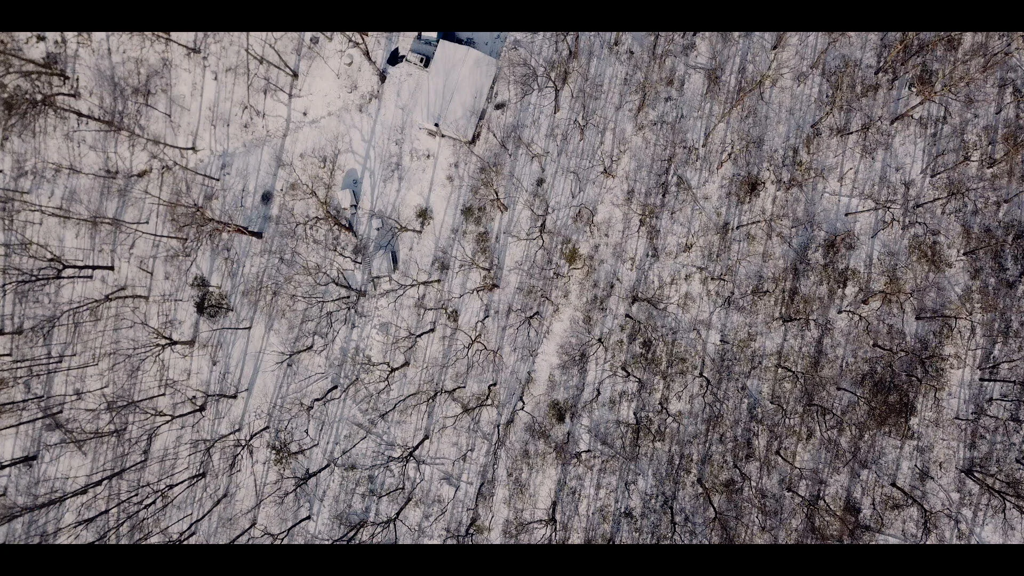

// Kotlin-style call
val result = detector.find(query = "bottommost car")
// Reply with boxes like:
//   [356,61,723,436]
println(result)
[405,49,434,70]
